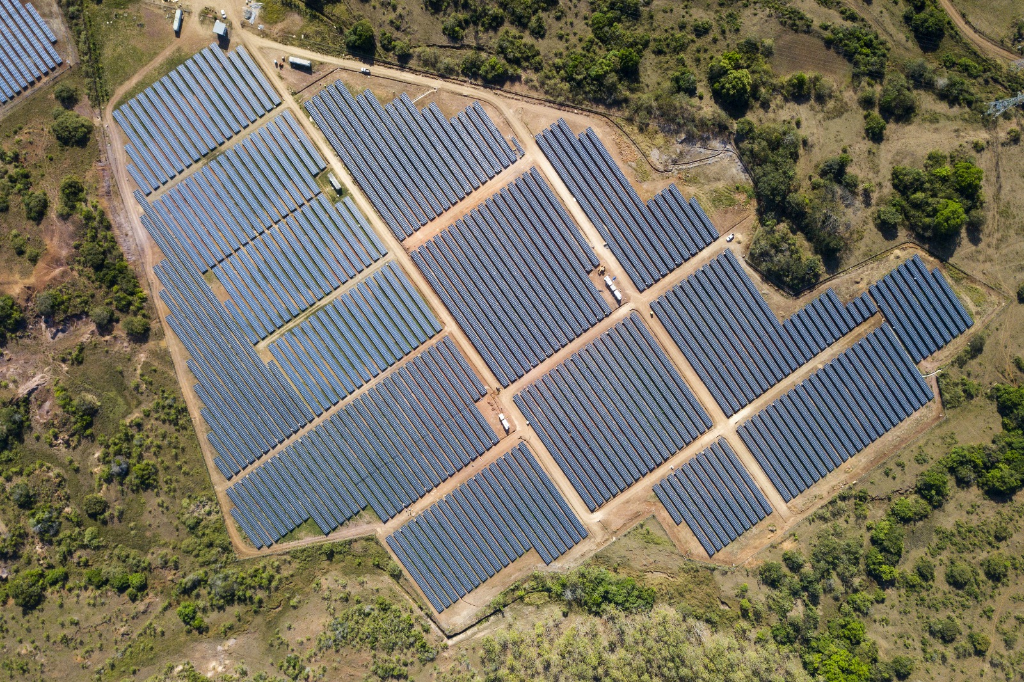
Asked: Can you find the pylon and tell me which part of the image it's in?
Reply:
top right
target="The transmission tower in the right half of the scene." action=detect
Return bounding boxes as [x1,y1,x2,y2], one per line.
[981,88,1024,119]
